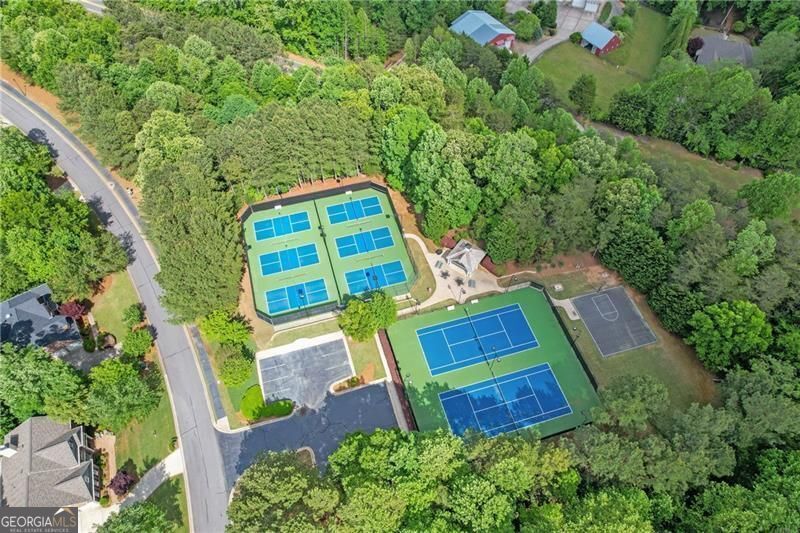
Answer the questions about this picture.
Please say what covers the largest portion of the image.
trees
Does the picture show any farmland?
No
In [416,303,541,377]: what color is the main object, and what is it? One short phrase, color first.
blue tennis court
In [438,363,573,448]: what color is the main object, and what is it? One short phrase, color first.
blue tennis court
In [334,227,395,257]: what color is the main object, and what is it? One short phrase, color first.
blue sports court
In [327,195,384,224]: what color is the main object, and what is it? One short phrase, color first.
blue sports court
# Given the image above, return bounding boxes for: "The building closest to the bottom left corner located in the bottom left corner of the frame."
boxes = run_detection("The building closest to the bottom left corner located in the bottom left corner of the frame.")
[0,413,102,533]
